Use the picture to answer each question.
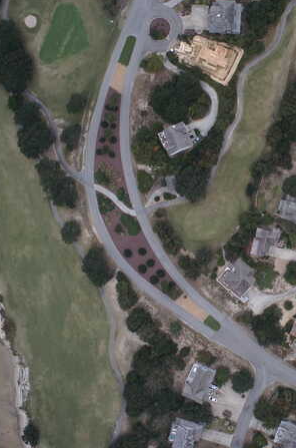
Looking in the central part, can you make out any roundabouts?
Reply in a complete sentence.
No, there is no roundabout in the central part.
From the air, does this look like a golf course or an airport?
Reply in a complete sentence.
This looks like a golf course.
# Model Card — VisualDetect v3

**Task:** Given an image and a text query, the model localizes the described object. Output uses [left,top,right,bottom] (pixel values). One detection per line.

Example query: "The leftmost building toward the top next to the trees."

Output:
[159,120,200,155]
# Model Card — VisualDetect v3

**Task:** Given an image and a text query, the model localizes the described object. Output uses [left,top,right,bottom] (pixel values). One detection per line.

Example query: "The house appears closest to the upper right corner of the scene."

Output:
[210,1,240,34]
